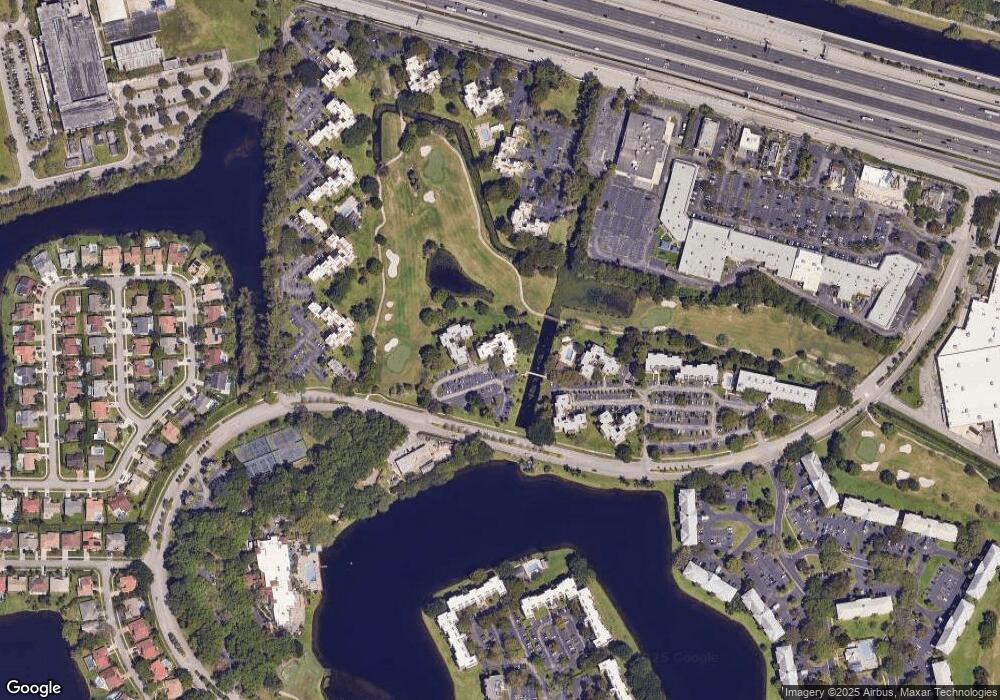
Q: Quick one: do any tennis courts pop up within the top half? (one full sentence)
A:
No, within the top half there is no tennis court.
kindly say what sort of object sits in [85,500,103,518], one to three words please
house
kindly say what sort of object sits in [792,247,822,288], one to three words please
building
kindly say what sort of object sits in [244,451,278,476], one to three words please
tennis court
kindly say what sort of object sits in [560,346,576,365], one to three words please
swimming pool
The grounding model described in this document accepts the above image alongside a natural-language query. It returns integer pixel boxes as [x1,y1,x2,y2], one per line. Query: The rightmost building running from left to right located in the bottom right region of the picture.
[901,514,961,542]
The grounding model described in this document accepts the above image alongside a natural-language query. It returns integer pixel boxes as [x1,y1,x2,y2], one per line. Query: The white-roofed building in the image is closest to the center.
[477,331,519,367]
